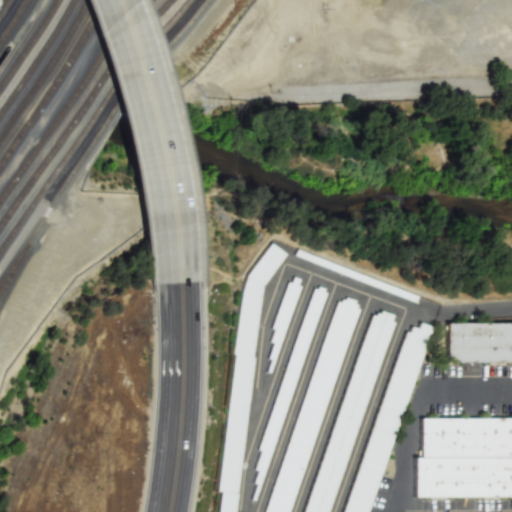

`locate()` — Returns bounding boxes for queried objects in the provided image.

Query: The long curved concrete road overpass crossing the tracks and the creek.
[92,0,209,284]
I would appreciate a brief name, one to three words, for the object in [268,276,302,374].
building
